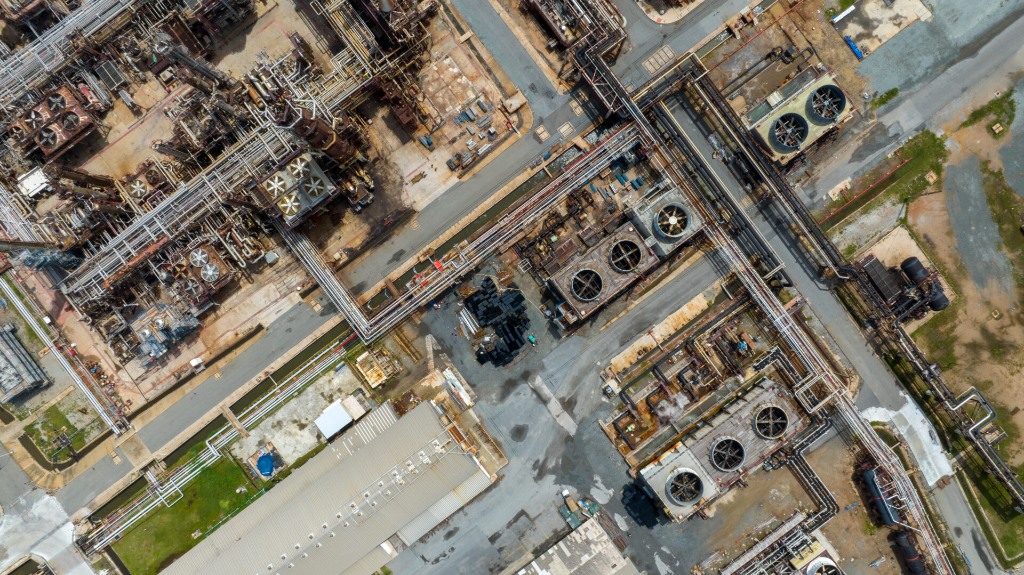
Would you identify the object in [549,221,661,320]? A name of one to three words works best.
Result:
cooling tower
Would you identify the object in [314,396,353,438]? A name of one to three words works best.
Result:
shed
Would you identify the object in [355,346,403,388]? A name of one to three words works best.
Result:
shed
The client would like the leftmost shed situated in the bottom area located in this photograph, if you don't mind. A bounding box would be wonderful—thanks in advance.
[0,321,60,406]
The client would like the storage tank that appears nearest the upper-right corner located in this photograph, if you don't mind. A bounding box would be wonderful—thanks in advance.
[895,257,950,310]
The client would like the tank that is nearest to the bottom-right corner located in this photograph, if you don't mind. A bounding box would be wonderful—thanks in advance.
[889,530,930,575]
